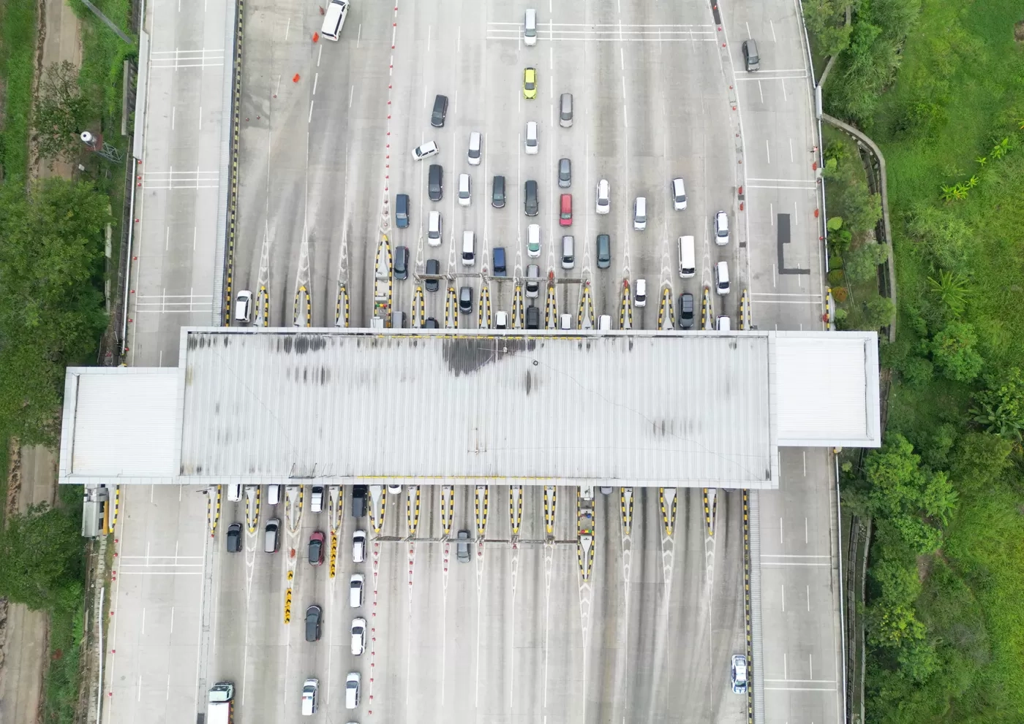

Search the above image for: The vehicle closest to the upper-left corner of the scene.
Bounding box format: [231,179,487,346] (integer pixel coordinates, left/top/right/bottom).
[323,0,347,38]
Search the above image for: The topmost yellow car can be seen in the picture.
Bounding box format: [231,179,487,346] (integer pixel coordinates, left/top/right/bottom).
[522,69,537,99]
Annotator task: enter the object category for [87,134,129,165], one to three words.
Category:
water tower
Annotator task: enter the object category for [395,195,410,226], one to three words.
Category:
vehicle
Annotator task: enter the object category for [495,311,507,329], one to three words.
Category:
vehicle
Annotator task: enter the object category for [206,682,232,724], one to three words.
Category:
truck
